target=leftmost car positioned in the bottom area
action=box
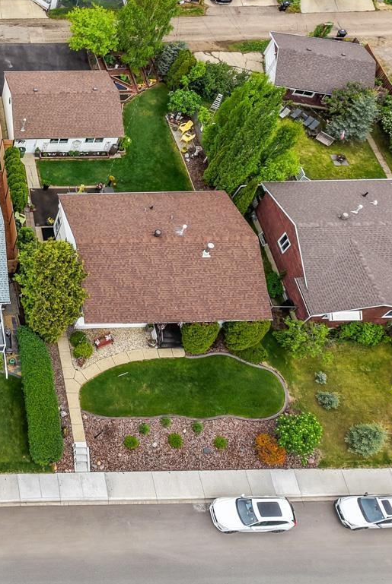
[205,493,297,536]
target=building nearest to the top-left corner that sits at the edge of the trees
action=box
[4,70,123,155]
